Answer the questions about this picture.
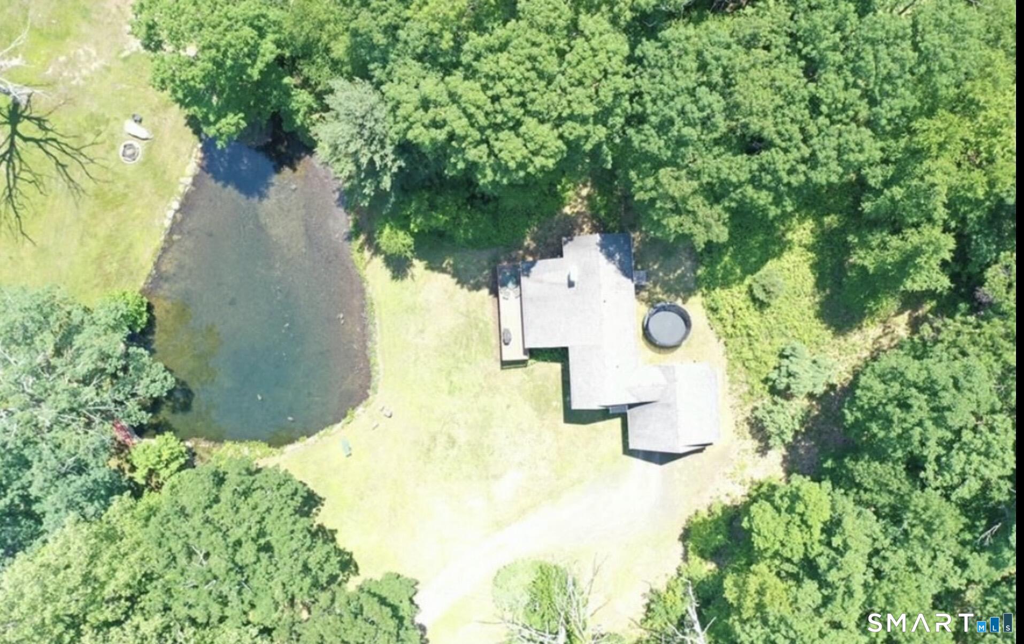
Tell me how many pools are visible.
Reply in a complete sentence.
There is 1 pool in the image.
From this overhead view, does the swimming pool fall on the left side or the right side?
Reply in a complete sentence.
The swimming pool appears in the right half of the scene.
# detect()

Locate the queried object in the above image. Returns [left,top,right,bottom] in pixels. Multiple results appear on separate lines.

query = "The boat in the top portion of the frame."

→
[123,119,151,138]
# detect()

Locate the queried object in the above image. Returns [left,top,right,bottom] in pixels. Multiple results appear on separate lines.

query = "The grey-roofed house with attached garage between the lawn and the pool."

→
[518,233,722,456]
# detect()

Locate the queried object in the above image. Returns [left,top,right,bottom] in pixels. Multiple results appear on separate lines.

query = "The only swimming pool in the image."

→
[643,300,695,350]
